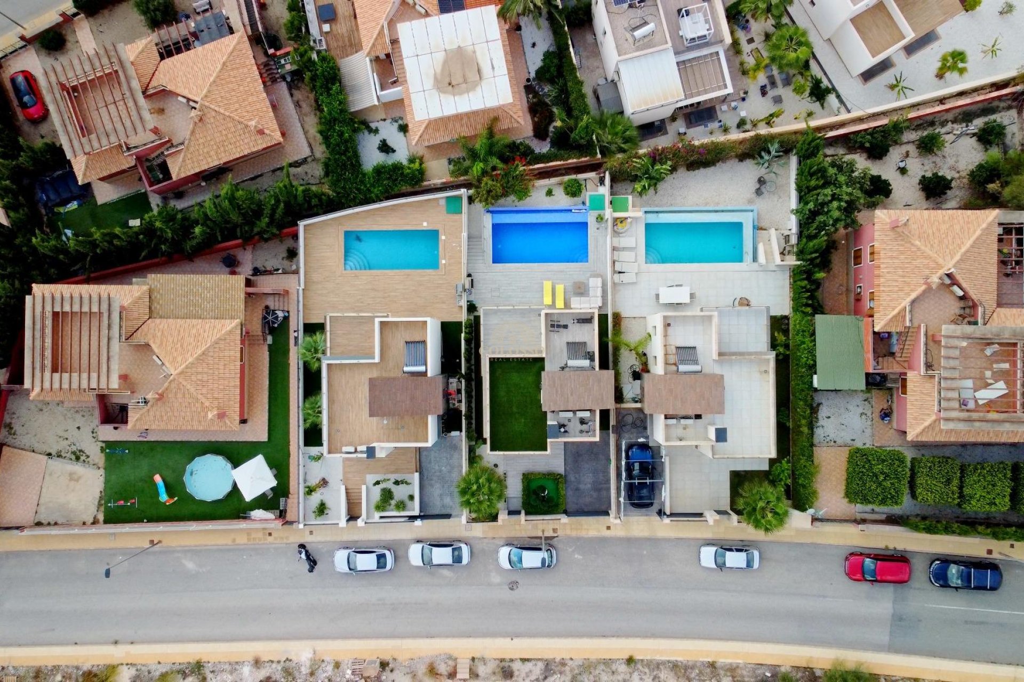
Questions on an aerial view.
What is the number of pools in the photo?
four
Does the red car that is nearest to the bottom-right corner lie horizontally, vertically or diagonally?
horizontally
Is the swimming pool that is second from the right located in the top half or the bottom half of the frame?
top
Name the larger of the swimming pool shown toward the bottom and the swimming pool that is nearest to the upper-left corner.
the swimming pool that is nearest to the upper-left corner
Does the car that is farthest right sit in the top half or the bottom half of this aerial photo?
bottom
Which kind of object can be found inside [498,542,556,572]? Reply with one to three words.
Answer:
car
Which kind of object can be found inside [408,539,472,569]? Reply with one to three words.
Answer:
car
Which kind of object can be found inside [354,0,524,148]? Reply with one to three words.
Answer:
house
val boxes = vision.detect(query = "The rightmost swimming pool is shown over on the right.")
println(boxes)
[644,206,759,267]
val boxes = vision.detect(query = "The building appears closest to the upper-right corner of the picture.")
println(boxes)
[791,0,915,83]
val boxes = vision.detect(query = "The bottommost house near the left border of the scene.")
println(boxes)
[25,274,247,431]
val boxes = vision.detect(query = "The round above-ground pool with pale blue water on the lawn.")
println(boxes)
[183,451,238,503]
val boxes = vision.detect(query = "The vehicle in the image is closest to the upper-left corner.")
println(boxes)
[9,68,53,125]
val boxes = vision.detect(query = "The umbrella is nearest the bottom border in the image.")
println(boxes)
[233,455,277,502]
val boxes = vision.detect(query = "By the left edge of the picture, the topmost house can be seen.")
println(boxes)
[43,1,283,197]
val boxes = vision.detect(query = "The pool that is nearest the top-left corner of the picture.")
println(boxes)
[338,222,445,275]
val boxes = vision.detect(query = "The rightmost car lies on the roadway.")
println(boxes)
[926,557,1001,591]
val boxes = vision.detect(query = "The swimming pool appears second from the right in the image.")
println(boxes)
[483,206,590,265]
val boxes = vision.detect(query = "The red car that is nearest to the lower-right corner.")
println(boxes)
[841,552,911,584]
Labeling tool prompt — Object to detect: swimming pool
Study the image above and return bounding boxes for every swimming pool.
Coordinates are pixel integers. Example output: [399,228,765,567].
[483,206,590,265]
[183,451,238,503]
[644,206,759,267]
[338,222,445,275]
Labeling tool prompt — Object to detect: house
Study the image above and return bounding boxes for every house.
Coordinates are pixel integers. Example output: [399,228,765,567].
[595,0,734,131]
[473,307,615,454]
[637,306,776,458]
[791,0,915,83]
[25,274,247,431]
[43,1,283,197]
[354,0,524,148]
[846,208,1024,443]
[321,313,448,472]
